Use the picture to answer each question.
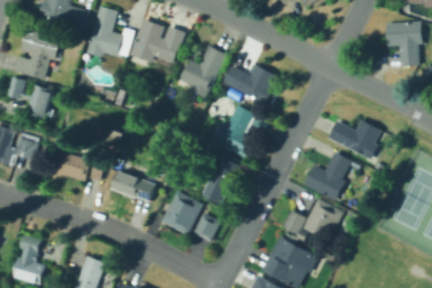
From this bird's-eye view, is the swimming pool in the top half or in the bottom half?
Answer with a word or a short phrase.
top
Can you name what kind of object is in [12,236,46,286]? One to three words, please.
house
